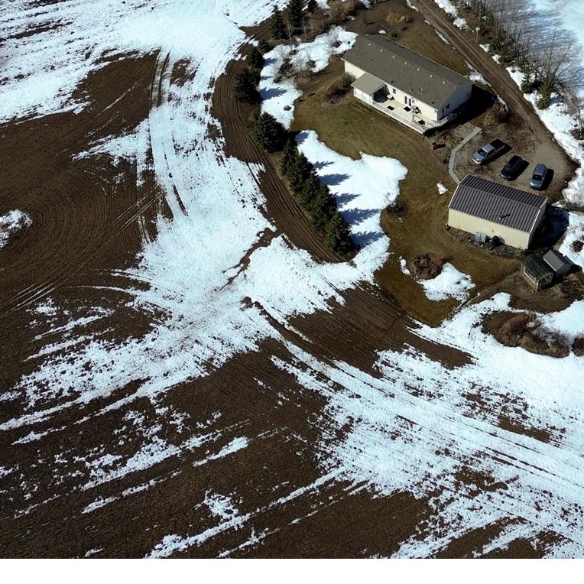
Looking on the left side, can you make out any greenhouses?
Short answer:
No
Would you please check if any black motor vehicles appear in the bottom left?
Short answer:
No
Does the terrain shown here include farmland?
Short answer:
Yes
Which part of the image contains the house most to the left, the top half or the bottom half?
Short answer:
top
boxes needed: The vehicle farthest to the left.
[469,136,510,166]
